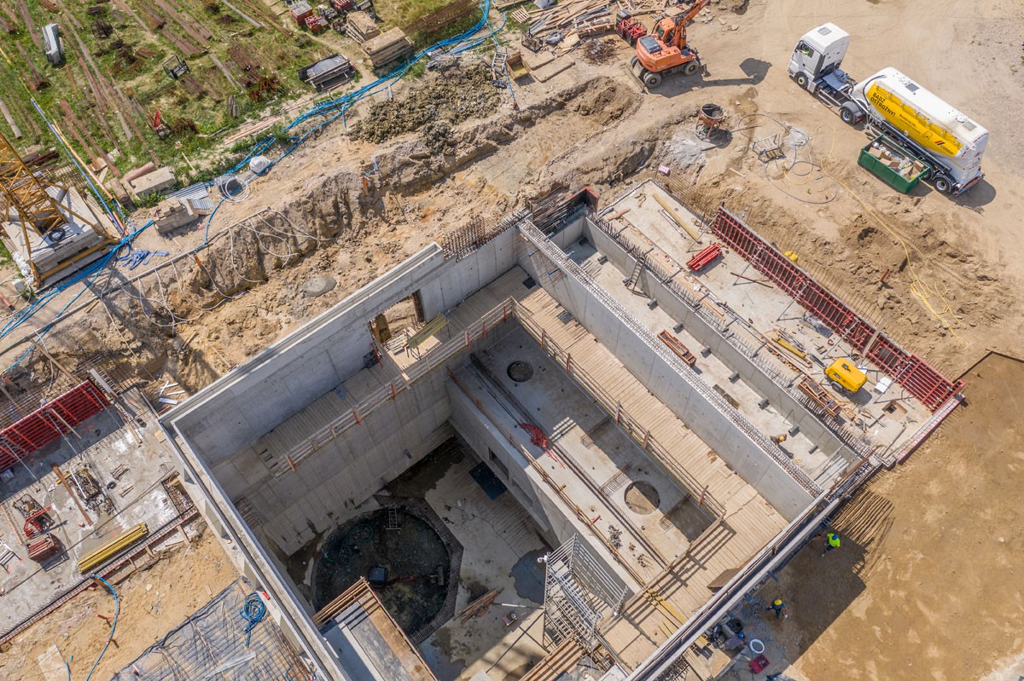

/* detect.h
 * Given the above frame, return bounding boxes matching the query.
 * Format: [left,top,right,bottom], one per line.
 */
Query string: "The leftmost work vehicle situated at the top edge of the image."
[616,0,708,100]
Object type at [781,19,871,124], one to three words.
vehicle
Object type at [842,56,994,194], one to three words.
trailer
